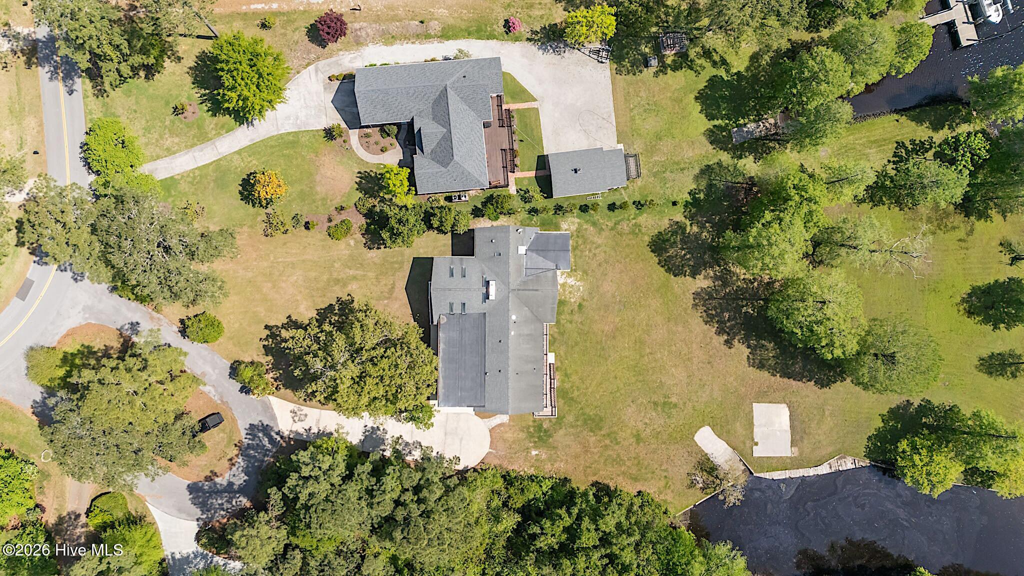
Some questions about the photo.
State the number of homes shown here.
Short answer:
2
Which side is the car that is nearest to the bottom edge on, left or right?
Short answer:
left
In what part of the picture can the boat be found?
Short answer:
top right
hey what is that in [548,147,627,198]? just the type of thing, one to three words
building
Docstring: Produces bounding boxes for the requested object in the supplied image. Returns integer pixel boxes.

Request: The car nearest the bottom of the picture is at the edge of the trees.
[193,412,224,437]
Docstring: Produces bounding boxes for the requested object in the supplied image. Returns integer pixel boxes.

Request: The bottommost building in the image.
[429,227,571,418]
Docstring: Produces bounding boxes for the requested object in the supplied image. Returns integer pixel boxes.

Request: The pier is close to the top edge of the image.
[918,0,986,50]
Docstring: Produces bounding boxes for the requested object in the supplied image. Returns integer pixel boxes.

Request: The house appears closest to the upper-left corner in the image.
[355,56,515,195]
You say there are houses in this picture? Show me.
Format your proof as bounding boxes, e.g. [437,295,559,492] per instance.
[355,56,515,195]
[429,227,571,418]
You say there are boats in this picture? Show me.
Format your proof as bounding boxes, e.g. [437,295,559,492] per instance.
[976,0,1002,27]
